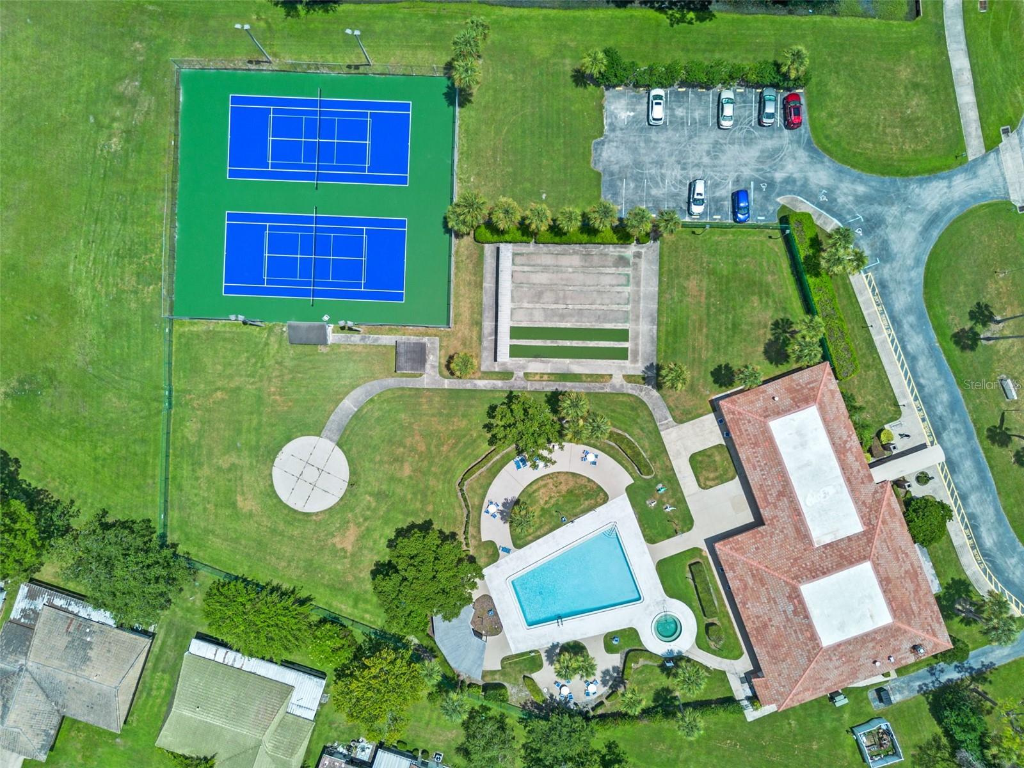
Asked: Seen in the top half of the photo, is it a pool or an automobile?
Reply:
automobile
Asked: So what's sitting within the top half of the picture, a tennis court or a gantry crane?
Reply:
tennis court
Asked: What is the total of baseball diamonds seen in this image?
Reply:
zero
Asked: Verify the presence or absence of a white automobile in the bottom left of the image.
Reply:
No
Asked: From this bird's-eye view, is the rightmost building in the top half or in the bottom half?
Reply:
bottom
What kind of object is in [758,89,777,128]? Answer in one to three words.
car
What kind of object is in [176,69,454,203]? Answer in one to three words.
tennis court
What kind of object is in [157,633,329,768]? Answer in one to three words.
house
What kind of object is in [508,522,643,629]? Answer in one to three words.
swimming pool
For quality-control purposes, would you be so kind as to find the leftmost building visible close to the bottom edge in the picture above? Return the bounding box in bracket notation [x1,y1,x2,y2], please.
[0,579,161,763]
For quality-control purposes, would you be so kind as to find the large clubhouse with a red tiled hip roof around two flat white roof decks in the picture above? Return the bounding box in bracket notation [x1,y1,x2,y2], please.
[714,362,954,712]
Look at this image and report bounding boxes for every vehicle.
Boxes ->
[758,89,777,128]
[688,179,706,216]
[648,90,666,126]
[717,91,736,130]
[732,188,751,222]
[783,93,803,131]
